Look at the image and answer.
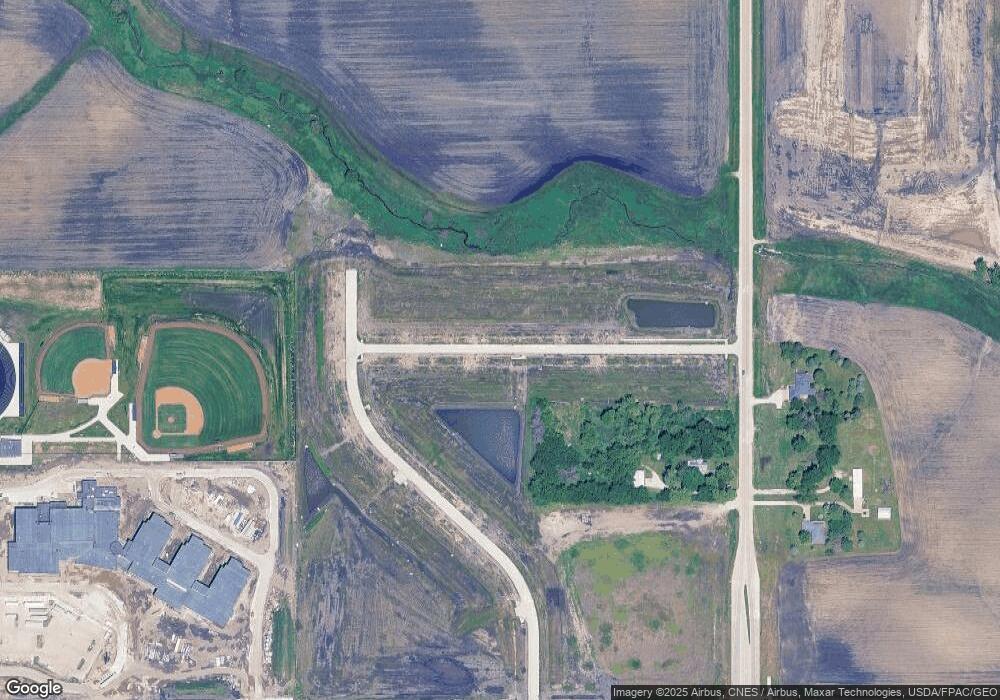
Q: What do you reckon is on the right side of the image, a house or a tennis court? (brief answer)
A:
house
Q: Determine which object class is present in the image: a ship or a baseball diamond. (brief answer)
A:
baseball diamond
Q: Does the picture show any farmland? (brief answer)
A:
Yes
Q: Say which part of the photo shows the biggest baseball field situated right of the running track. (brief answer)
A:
left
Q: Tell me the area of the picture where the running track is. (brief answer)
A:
left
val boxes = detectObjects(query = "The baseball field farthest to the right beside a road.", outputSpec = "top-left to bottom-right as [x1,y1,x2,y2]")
[136,321,269,454]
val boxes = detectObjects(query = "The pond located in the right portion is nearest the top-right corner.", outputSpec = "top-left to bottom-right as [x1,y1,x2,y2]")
[628,299,716,327]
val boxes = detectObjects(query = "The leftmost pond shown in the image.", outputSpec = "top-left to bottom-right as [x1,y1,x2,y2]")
[438,409,520,483]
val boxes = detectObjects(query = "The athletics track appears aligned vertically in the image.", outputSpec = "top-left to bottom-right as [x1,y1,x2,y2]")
[0,328,24,420]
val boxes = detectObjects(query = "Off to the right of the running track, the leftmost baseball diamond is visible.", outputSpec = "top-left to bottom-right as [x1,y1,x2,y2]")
[36,322,115,402]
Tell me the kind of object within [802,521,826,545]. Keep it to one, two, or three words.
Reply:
house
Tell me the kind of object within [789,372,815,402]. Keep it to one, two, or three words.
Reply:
house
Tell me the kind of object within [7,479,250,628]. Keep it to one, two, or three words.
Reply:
building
